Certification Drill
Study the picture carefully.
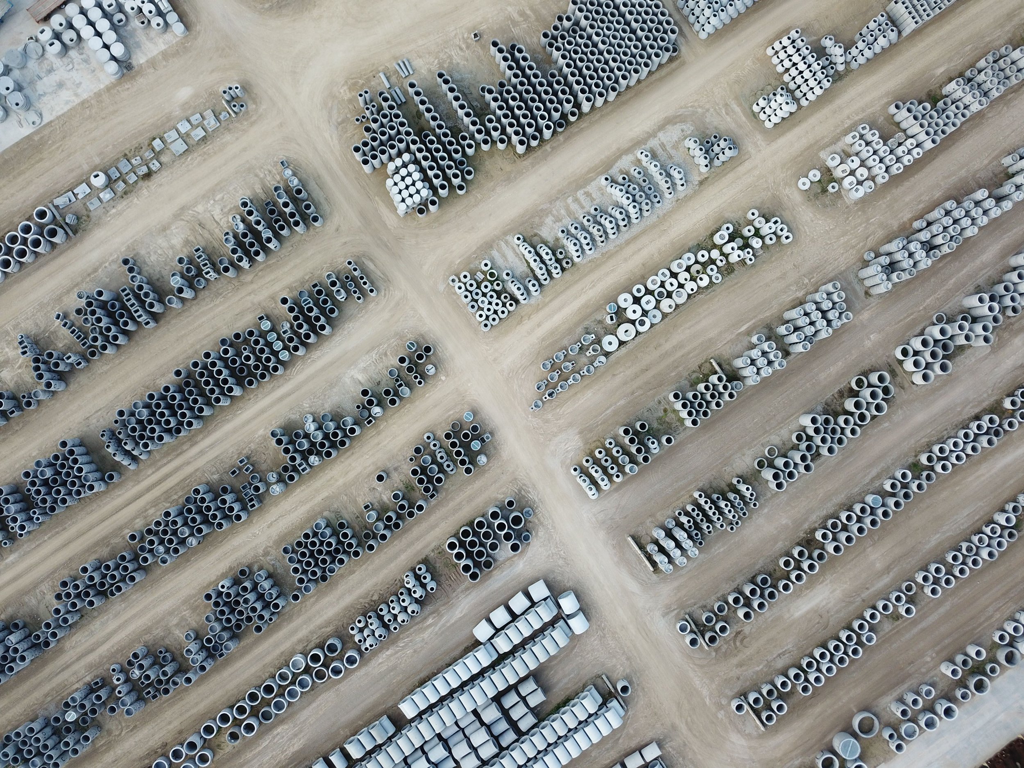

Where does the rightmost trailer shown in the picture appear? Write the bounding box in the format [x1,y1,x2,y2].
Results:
[26,0,81,27]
